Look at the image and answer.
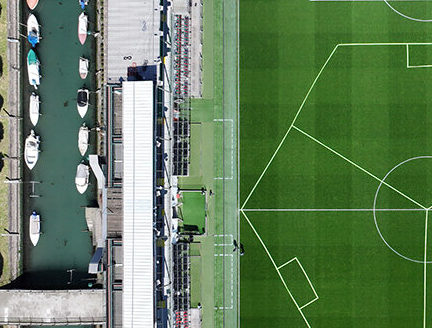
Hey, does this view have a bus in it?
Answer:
No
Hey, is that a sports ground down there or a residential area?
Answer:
sports ground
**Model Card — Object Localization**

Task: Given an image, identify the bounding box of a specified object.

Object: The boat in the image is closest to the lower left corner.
[29,212,42,247]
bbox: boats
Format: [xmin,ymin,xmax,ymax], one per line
[27,0,40,12]
[75,88,89,119]
[29,92,41,127]
[75,163,90,195]
[78,14,89,45]
[26,49,42,86]
[79,55,89,80]
[29,212,42,247]
[77,125,89,156]
[26,14,40,45]
[23,136,41,170]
